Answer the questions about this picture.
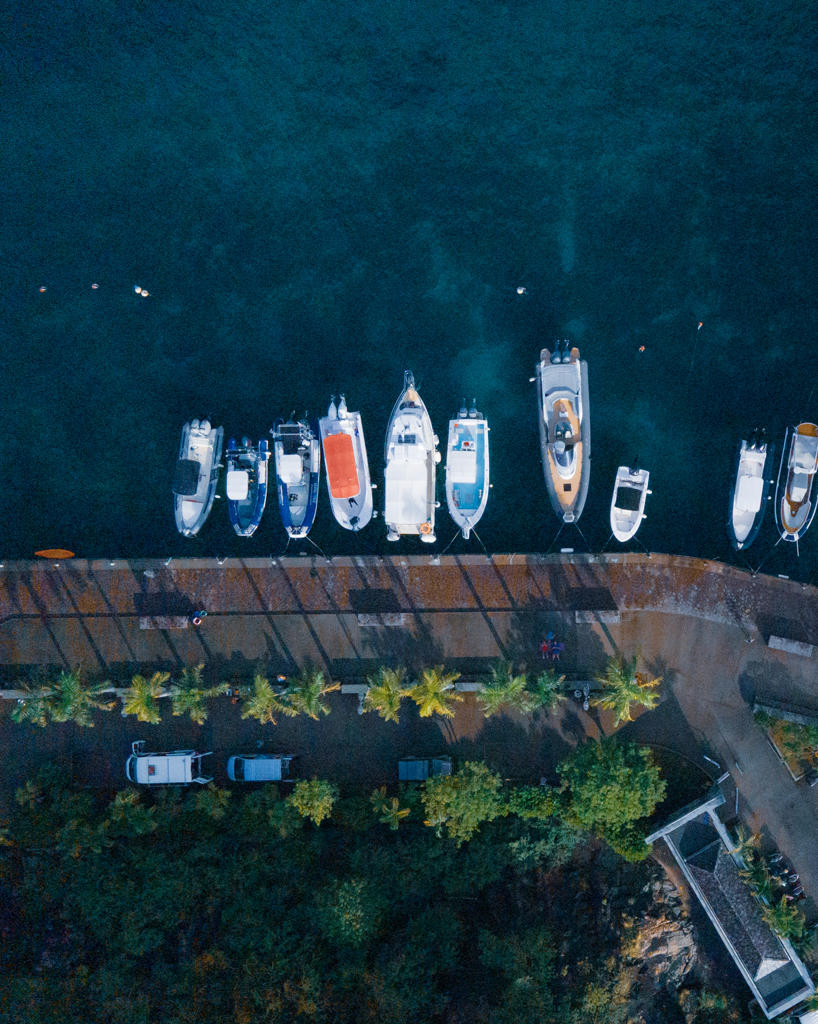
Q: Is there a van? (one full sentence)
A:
Yes, there's a van down there.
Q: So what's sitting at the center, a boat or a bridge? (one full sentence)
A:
It is a boat that can be seen at the center.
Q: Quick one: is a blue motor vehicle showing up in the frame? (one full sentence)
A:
Yes, the picture does show a blue motor vehicle.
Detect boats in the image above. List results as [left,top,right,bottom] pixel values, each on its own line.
[384,370,436,536]
[226,436,269,537]
[172,419,223,537]
[537,340,592,523]
[446,398,489,539]
[774,422,818,541]
[271,411,322,540]
[320,395,373,532]
[725,430,773,549]
[611,456,649,543]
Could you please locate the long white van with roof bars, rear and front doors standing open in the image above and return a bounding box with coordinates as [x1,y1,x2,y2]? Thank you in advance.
[127,736,217,787]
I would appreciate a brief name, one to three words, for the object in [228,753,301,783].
van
